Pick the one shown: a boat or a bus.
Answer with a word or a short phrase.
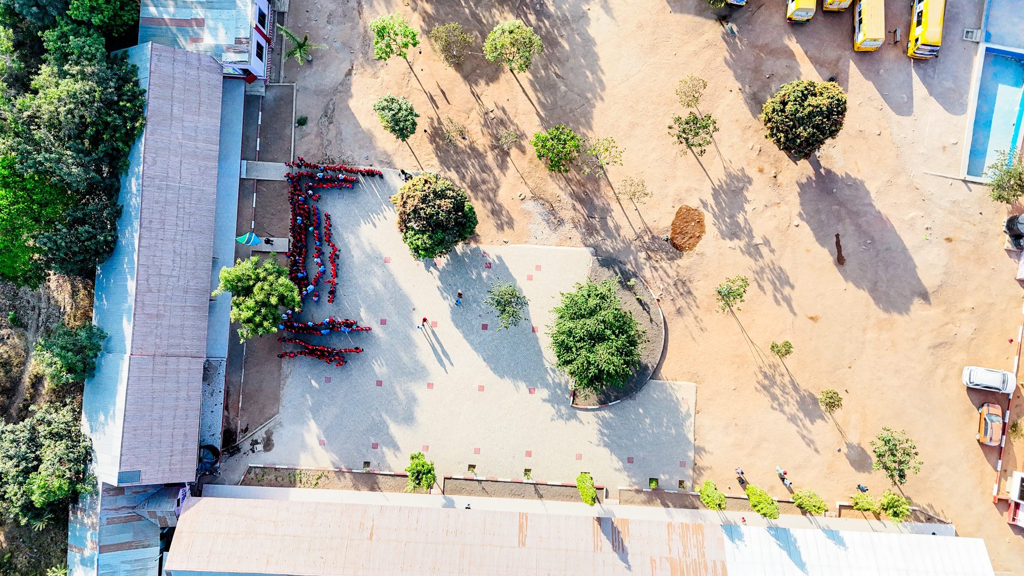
bus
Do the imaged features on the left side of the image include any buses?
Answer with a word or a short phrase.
No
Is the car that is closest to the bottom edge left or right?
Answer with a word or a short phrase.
right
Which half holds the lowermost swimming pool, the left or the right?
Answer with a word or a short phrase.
right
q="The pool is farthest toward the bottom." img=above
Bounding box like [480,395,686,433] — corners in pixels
[963,44,1024,190]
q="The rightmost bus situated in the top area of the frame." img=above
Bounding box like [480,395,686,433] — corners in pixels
[908,0,949,57]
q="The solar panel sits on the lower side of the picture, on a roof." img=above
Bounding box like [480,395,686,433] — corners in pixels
[118,470,141,484]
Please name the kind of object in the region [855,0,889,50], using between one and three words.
bus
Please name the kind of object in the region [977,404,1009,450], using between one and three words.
car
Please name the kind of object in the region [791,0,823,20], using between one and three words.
bus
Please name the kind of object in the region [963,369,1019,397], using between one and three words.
car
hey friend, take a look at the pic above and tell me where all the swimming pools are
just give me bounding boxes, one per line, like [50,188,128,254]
[963,44,1024,190]
[980,0,1024,47]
